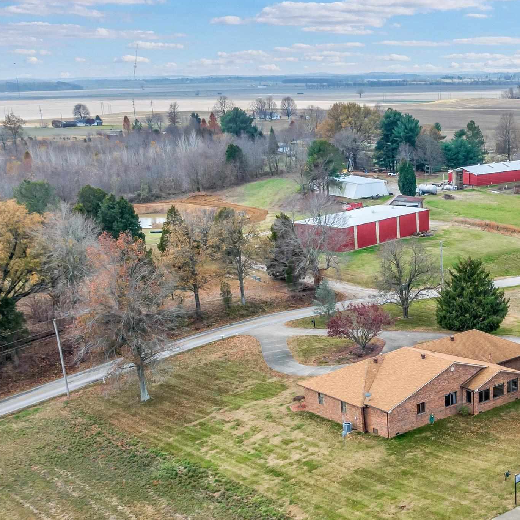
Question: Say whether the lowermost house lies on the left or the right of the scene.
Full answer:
It is on the right.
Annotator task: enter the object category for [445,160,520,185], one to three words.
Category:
shed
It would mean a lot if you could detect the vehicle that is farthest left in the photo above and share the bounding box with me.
[335,199,365,213]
